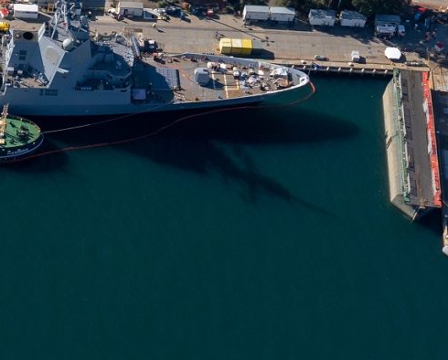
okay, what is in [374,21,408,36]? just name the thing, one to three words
vehicle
